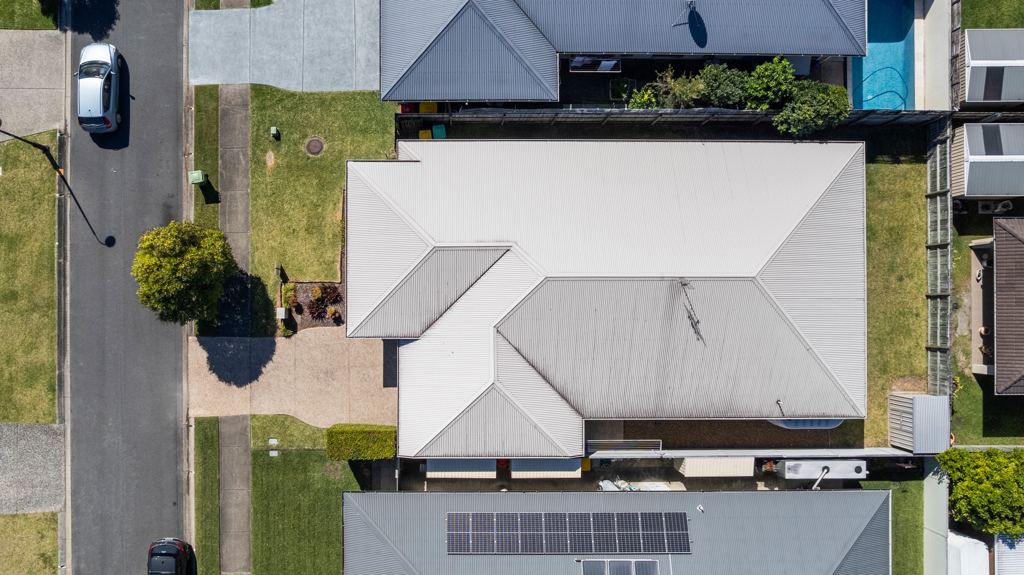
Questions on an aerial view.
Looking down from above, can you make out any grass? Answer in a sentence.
Yes, grass shows up in the scene.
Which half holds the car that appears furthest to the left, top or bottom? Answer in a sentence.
The top half of the photo is where the car that appears furthest to the left is.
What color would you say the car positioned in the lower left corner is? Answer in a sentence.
From above, the car positioned in the lower left corner appears black.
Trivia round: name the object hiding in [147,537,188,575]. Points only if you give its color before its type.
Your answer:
black car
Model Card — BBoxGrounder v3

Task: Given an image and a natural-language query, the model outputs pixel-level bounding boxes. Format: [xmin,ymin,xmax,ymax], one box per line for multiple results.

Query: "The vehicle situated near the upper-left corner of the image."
[73,42,123,133]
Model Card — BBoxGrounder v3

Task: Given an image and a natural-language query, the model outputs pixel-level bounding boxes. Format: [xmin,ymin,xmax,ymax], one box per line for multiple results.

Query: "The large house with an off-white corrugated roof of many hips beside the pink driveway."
[345,141,866,459]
